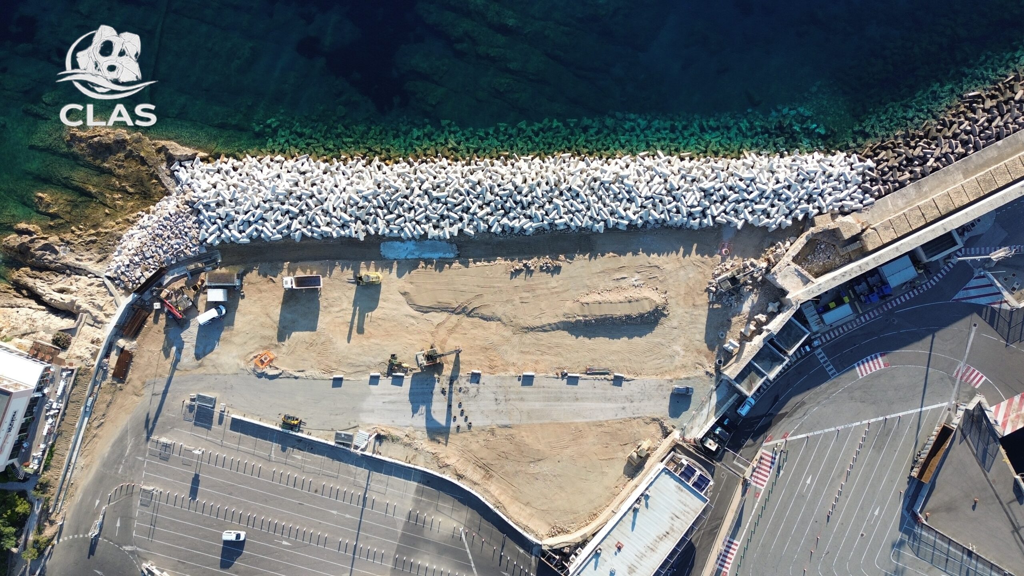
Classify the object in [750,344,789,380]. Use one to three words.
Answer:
building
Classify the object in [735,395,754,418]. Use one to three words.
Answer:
car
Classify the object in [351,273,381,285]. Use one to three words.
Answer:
vehicle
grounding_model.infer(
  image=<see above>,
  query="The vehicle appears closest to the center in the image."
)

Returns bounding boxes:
[411,343,467,368]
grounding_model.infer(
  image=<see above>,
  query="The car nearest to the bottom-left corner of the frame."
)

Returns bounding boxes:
[223,529,247,542]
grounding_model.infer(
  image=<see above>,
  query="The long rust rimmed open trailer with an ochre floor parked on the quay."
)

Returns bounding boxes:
[904,420,955,483]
